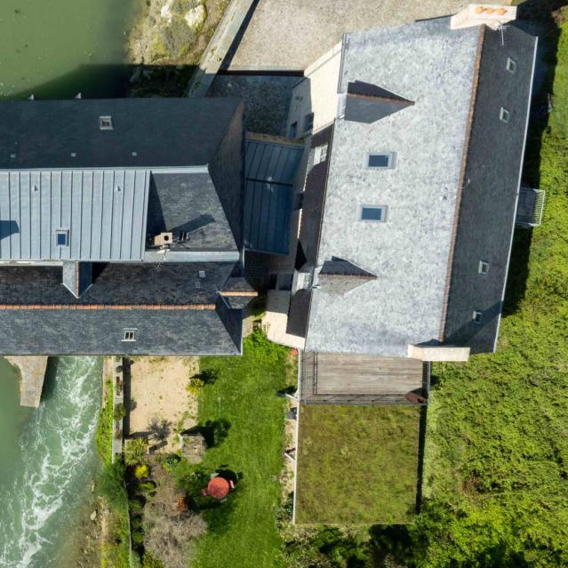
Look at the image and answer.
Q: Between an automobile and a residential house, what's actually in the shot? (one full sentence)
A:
Looking from above, you can make out a residential house.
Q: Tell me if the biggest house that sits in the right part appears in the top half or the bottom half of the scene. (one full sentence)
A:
It is in the top half that the biggest house that sits in the right part appears.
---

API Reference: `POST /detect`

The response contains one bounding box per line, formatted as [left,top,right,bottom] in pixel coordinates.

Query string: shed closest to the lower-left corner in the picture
[179,430,203,458]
